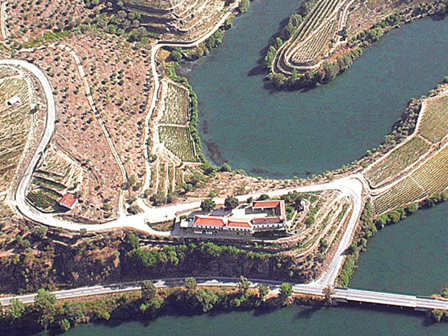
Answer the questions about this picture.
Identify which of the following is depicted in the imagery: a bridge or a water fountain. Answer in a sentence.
It is a bridge that can be seen here.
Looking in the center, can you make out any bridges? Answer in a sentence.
No, looking in the center, there is no bridge.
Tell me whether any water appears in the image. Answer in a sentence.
Yes, there's water in this view.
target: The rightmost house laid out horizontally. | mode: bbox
[193,199,286,237]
